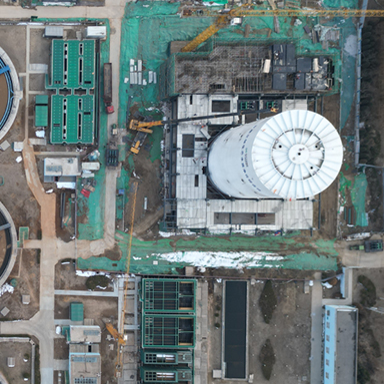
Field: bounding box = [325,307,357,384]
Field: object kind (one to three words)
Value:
building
